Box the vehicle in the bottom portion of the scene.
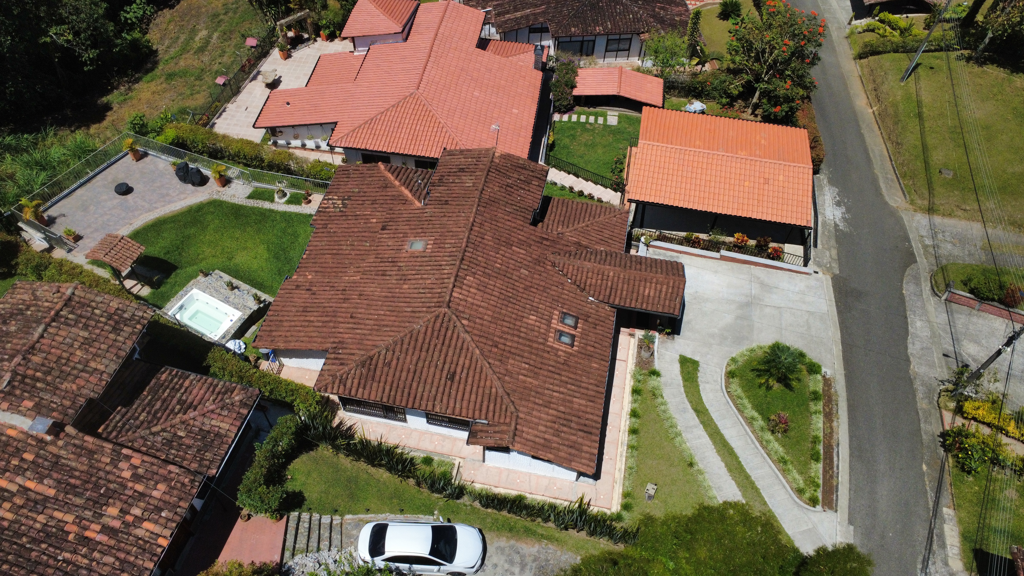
[357,514,489,576]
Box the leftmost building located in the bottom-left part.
[0,278,262,576]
